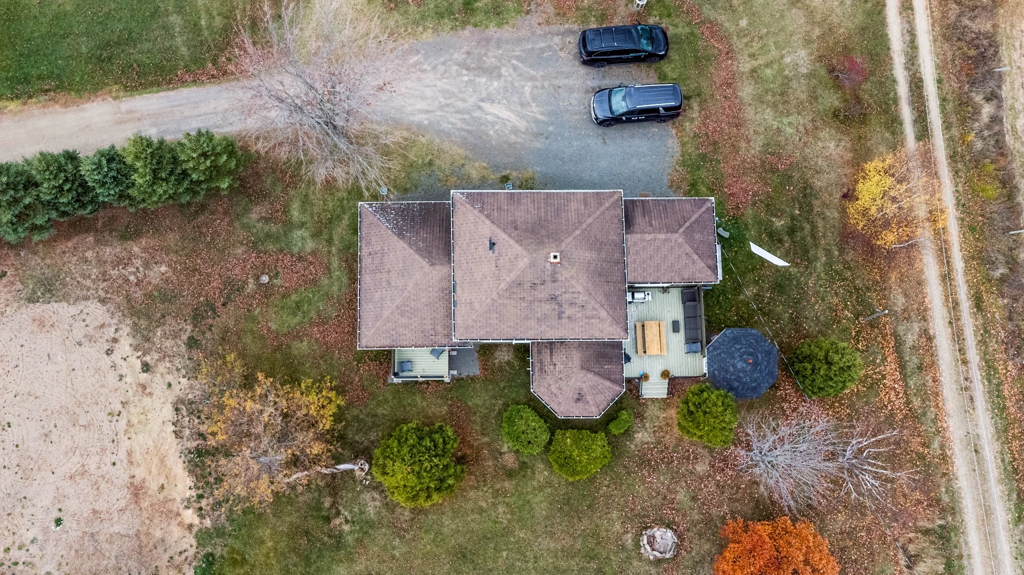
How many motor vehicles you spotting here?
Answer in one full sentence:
In total, there are 2 motor vehicles in the scene.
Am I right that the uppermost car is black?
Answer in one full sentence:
Yes, the uppermost car appears black.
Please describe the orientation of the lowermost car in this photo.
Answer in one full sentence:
From this overhead view, the lowermost car appears to run from left to right.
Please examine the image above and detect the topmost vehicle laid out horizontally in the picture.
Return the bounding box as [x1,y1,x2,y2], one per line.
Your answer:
[582,21,671,68]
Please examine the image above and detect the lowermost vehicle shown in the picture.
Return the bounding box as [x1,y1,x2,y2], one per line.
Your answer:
[590,81,683,126]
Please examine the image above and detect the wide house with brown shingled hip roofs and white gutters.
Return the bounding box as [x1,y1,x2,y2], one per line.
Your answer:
[356,188,721,421]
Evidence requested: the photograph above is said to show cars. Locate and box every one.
[582,21,671,68]
[590,81,683,126]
